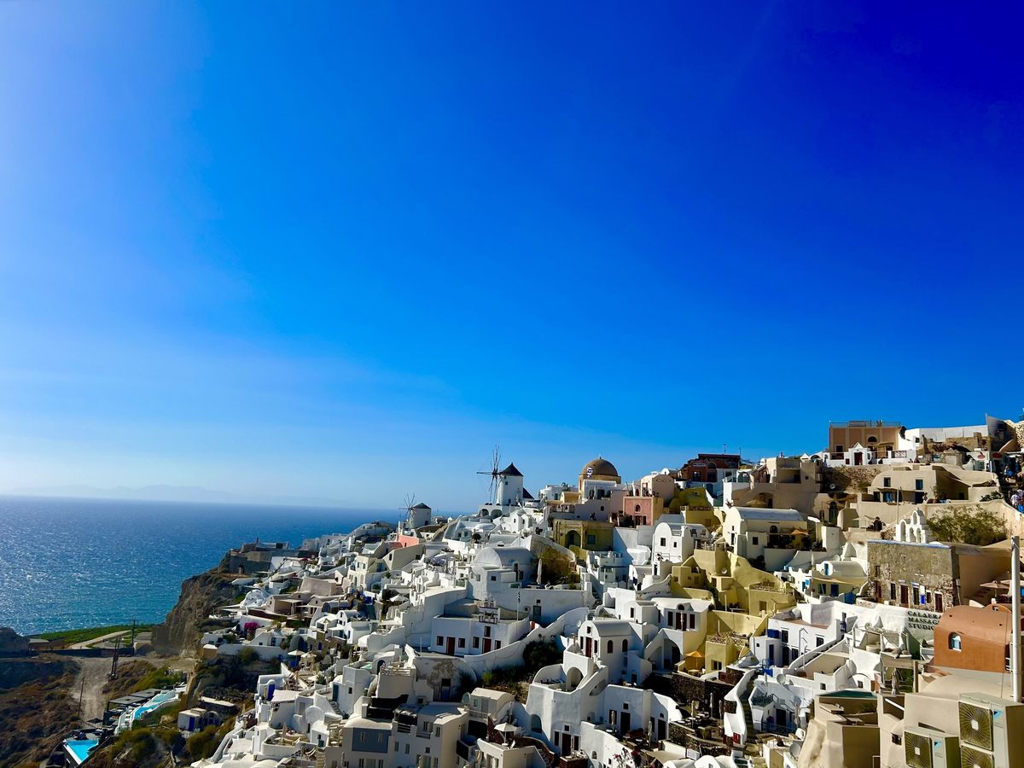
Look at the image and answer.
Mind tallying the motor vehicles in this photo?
zero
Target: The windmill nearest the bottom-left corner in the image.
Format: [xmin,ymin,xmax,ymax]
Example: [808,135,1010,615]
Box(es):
[400,492,433,528]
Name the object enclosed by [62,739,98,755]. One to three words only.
swimming pool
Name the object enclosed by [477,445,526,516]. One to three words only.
windmill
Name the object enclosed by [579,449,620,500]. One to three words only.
building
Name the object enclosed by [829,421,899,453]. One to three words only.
house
